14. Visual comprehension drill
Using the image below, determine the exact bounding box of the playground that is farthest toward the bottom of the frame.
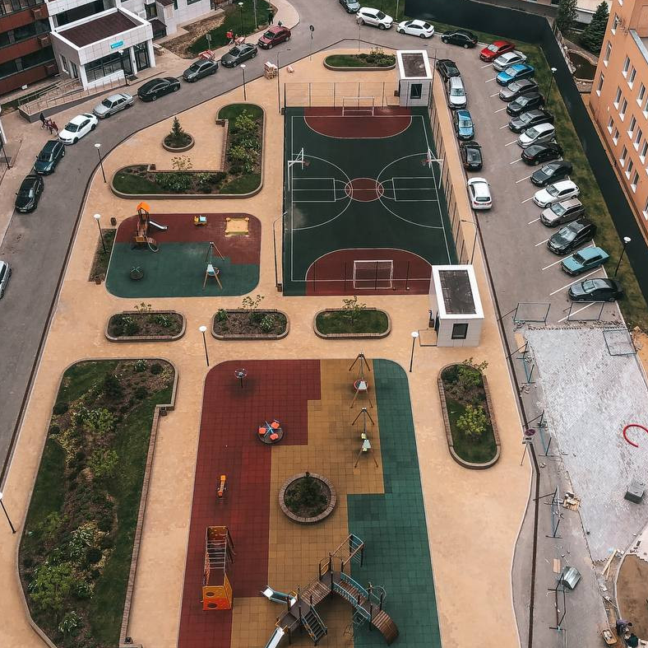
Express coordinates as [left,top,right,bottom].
[175,358,443,648]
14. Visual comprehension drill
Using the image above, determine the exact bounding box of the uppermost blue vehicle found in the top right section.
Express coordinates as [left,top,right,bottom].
[498,61,534,84]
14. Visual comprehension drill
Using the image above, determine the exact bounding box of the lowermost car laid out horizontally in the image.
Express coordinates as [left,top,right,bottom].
[566,278,627,307]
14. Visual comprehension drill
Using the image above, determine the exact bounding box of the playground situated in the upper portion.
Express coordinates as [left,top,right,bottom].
[104,212,262,298]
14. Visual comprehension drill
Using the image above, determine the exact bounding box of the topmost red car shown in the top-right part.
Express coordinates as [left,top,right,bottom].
[478,40,517,62]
